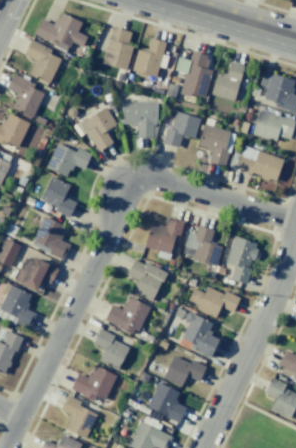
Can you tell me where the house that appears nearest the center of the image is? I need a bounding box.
[147,218,184,253]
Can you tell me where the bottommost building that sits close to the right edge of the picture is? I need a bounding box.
[265,378,296,422]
